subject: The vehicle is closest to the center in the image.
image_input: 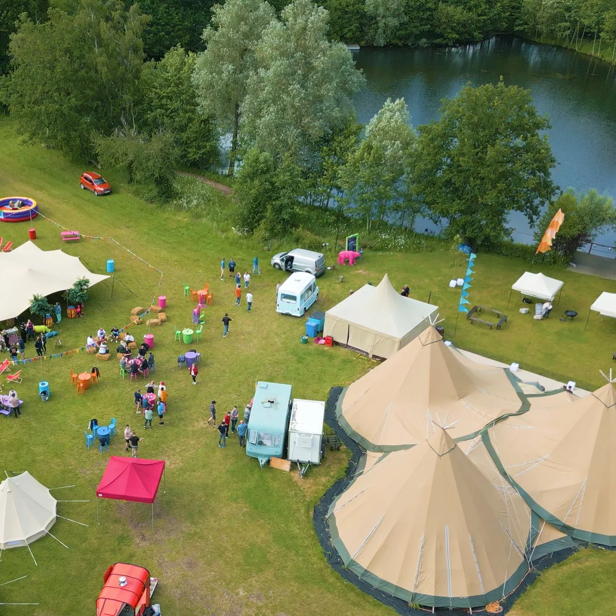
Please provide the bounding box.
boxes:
[274,267,325,316]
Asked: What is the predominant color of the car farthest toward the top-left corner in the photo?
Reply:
red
